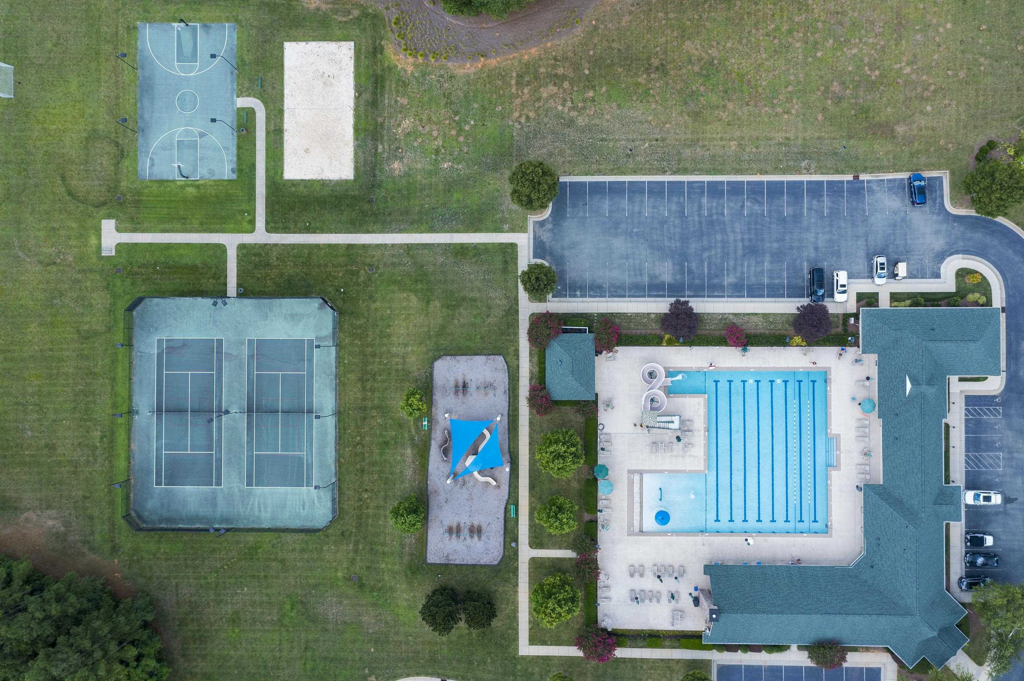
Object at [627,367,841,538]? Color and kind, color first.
blue swimming pool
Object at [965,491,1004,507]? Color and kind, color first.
white car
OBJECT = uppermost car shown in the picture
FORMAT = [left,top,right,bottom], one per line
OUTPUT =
[909,174,928,206]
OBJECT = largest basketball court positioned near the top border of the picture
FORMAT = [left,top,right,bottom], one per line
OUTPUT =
[138,23,237,179]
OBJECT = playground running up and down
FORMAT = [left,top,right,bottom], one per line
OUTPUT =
[425,354,511,567]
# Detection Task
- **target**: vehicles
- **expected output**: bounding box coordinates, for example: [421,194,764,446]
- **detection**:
[969,534,996,549]
[968,554,1002,570]
[833,271,850,301]
[965,491,1004,507]
[909,174,928,206]
[961,577,993,592]
[809,268,827,302]
[892,262,906,278]
[872,255,889,285]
